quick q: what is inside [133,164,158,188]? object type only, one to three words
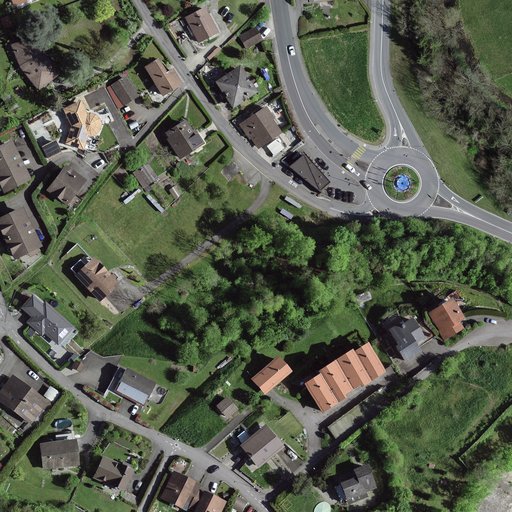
shed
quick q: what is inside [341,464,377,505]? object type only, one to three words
house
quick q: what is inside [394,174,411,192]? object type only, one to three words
fountain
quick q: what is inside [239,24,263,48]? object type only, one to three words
barn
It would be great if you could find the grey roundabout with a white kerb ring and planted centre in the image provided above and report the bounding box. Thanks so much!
[356,138,454,220]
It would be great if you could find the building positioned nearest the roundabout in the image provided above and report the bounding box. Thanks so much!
[289,153,330,191]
